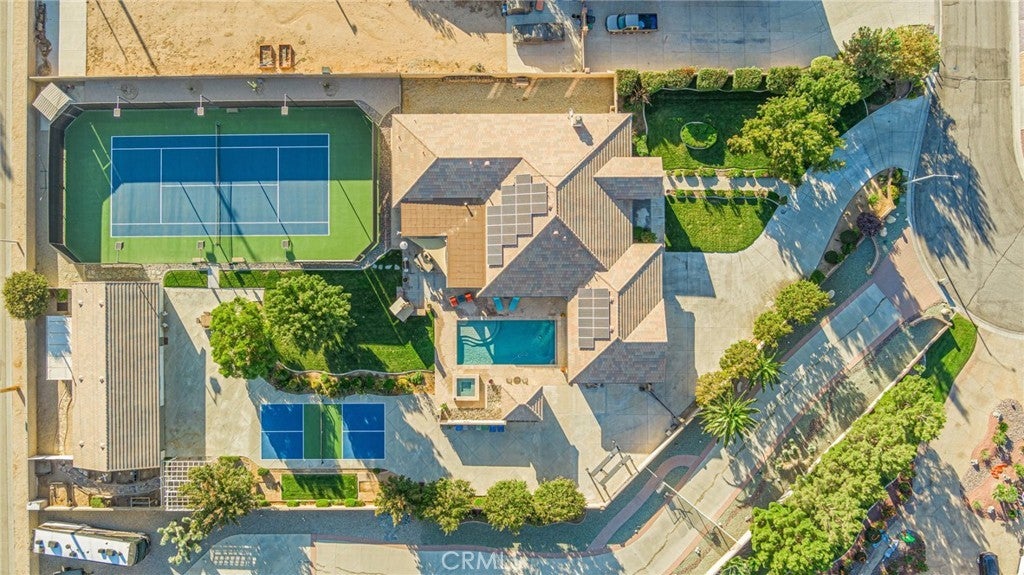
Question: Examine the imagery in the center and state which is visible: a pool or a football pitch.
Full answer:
Looking in the center, you will find a pool.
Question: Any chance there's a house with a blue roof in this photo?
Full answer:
No, the frame has no house with a blue roof in it.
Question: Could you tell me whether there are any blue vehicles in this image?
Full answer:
Yes, I can see a blue vehicle in this picture.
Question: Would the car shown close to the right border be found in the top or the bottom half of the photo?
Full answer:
The car shown close to the right border is in the bottom half of the image.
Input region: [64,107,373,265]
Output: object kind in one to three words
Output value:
tennis court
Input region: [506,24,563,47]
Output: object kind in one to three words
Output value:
trailer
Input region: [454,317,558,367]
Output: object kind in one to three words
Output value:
swimming pool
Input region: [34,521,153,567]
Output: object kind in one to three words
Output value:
camper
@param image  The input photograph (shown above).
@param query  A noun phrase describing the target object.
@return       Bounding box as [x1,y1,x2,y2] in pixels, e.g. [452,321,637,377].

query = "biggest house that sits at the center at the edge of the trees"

[391,112,667,384]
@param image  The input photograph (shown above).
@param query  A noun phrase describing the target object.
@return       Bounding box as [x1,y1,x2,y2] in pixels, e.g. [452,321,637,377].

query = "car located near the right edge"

[974,553,999,575]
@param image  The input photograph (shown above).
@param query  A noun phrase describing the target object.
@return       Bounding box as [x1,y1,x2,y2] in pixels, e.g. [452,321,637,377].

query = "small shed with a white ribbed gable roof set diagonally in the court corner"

[32,82,77,121]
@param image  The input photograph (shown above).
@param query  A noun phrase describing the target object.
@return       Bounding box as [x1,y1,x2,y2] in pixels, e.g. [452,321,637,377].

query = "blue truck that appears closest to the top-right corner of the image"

[604,11,659,35]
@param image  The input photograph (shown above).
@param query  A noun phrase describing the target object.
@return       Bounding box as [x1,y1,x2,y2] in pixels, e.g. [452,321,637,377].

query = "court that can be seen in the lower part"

[261,404,384,460]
